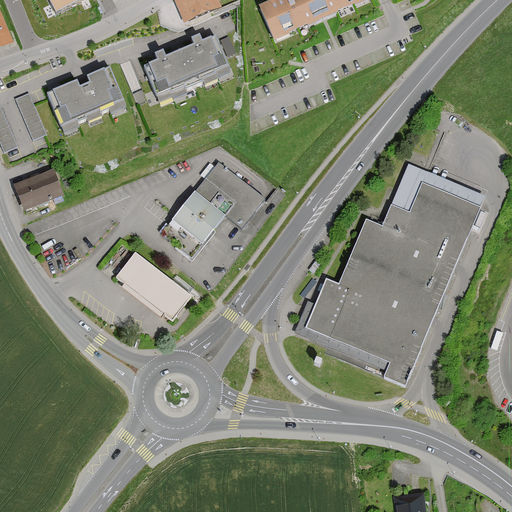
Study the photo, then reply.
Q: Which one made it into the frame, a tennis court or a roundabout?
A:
roundabout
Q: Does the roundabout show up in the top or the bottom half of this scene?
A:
bottom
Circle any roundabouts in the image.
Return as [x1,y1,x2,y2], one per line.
[132,350,222,440]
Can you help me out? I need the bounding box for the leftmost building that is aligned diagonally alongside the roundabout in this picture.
[116,252,198,318]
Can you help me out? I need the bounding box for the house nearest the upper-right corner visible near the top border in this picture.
[258,0,370,45]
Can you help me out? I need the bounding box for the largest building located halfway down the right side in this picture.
[296,164,488,386]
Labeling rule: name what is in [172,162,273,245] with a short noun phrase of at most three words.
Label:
building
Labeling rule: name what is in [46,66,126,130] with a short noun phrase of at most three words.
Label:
building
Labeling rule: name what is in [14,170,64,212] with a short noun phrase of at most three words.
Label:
house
